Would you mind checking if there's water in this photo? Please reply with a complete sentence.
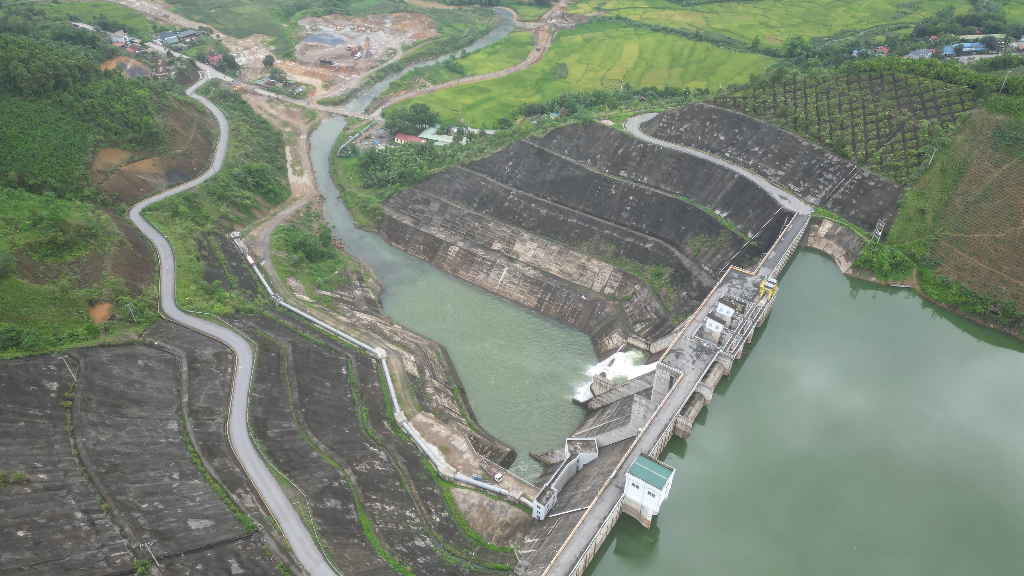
Yes, some water is visible.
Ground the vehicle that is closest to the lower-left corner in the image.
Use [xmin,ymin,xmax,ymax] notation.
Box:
[476,455,505,484]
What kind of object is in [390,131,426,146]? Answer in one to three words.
house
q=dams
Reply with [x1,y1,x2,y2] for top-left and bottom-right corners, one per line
[509,207,812,576]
